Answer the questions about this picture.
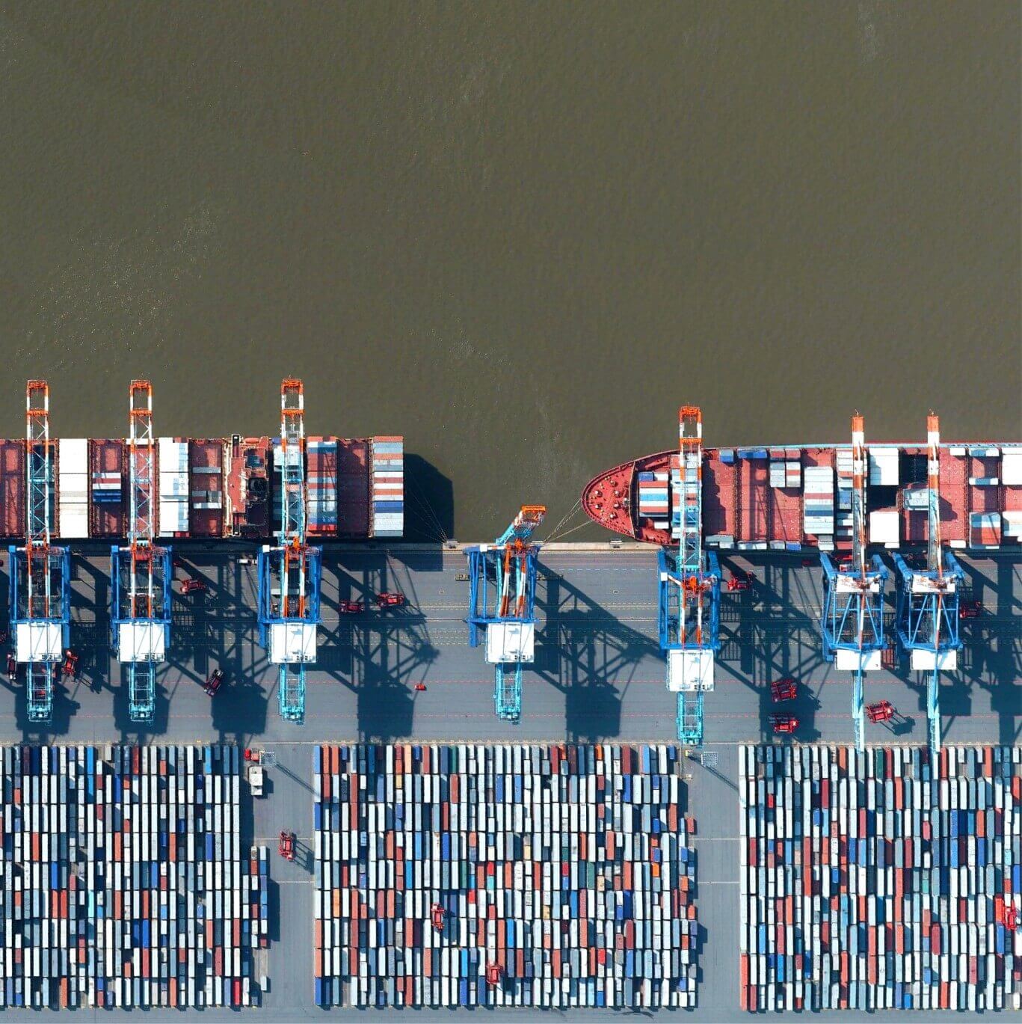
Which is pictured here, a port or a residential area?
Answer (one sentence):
It's a port.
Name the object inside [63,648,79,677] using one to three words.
work vehicle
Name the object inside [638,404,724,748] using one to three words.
container crane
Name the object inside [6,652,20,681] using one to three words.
work vehicle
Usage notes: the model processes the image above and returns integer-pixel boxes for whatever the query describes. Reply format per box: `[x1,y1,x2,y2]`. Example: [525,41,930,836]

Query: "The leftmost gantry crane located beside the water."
[5,378,88,724]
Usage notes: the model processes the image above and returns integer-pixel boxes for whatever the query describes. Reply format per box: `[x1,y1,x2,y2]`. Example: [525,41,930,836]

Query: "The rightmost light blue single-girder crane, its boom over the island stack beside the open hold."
[882,414,965,754]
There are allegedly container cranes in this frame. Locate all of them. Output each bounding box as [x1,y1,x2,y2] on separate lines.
[5,378,88,724]
[249,378,333,724]
[799,415,889,754]
[105,378,189,724]
[455,507,542,724]
[882,414,965,754]
[638,404,724,748]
